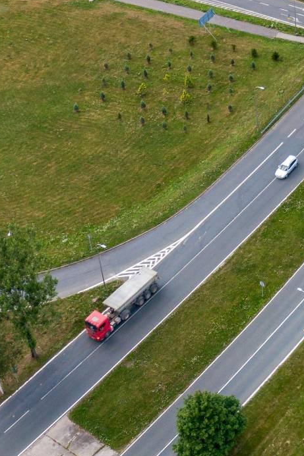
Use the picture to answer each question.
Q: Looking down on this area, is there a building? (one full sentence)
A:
No, the picture doesn't show any building.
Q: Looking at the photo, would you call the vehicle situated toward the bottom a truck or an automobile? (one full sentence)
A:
The vehicle situated toward the bottom appears to be a truck.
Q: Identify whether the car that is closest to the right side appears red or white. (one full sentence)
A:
The color of the car that is closest to the right side is white.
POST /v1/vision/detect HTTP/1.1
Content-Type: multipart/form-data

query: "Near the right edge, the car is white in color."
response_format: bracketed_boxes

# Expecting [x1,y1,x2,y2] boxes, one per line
[274,157,300,179]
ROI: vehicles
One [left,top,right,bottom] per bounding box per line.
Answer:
[85,270,157,340]
[274,157,300,179]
